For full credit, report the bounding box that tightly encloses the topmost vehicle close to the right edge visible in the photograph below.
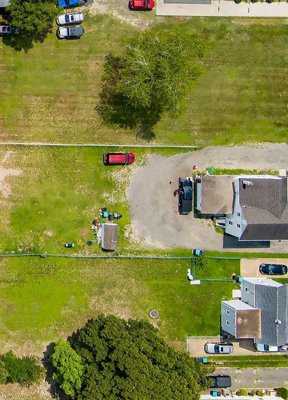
[261,264,288,277]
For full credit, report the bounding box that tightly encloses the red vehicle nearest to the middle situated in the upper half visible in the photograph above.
[105,152,137,166]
